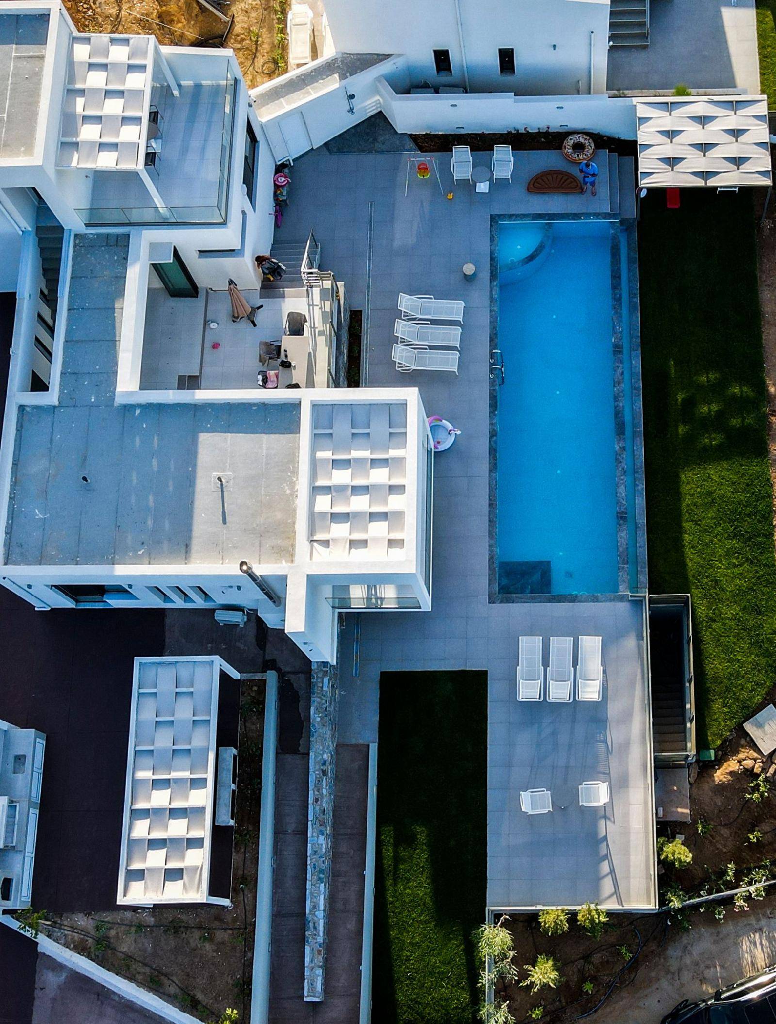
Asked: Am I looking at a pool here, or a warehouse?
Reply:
pool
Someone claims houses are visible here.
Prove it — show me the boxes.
[319,0,611,95]
[0,0,432,670]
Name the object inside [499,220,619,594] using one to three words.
swimming pool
